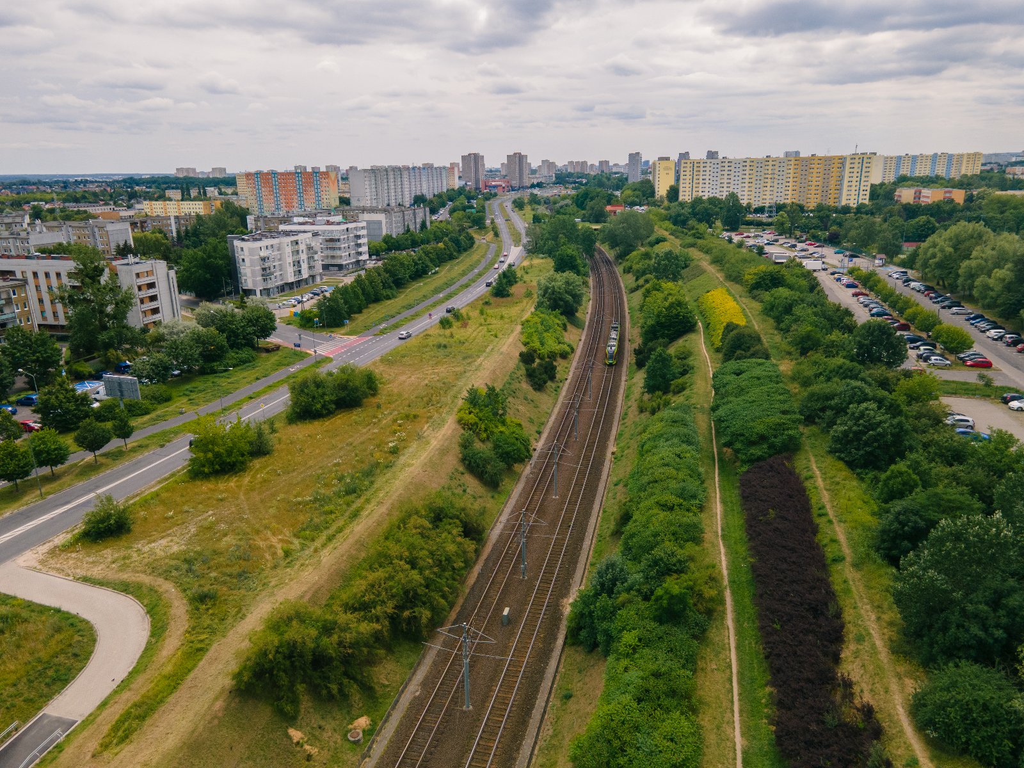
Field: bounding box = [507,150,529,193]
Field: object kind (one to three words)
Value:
building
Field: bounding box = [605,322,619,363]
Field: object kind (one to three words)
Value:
train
